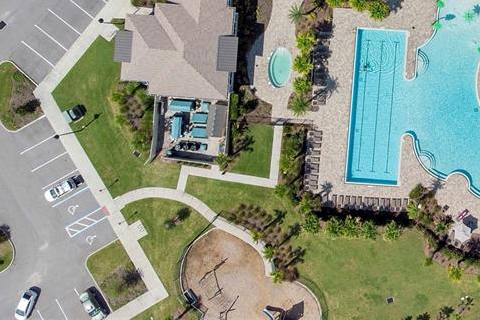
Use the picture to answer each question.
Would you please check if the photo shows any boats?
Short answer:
No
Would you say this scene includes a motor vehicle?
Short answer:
Yes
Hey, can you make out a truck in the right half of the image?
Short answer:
No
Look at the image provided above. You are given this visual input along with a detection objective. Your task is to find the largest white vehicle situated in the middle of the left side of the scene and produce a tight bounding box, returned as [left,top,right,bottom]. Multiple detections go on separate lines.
[43,175,86,203]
